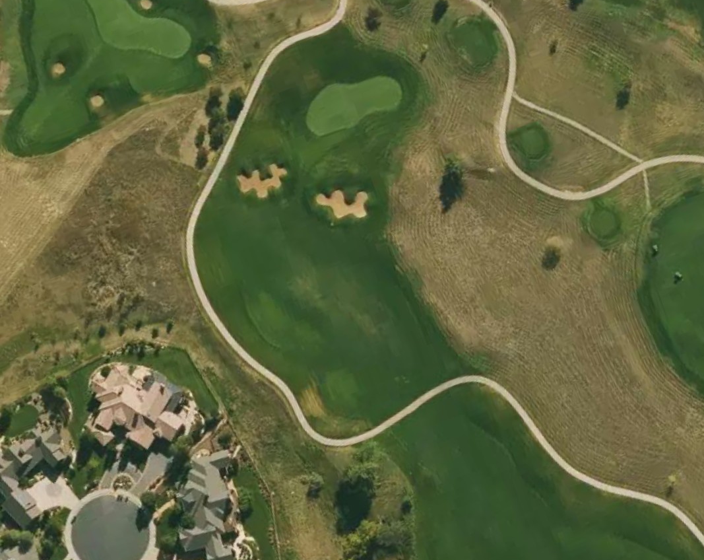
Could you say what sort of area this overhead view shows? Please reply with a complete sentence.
This image shows a golf course.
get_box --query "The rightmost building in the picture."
[176,447,234,560]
